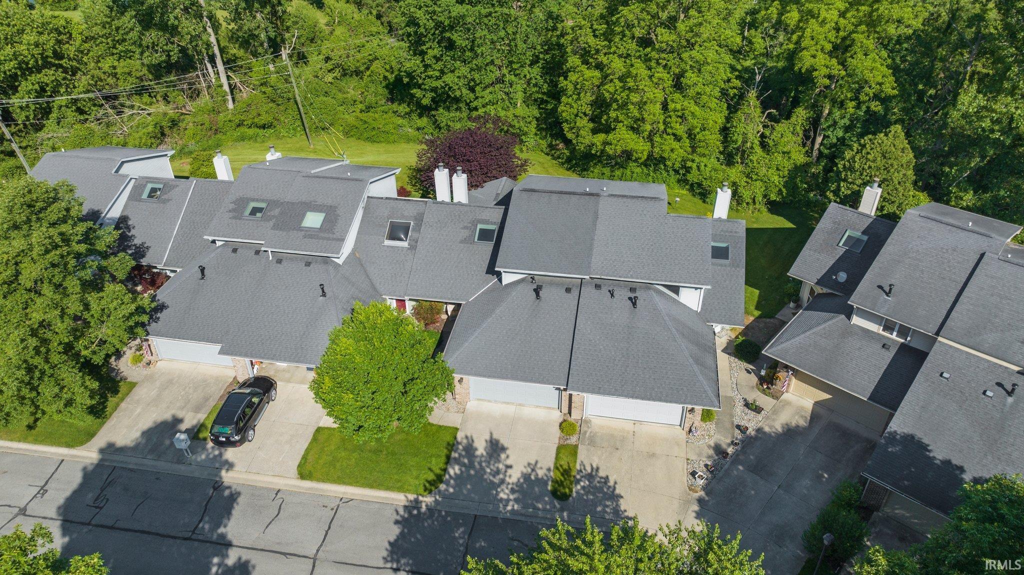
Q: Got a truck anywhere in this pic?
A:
No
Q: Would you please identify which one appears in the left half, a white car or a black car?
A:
black car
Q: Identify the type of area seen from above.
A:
residential area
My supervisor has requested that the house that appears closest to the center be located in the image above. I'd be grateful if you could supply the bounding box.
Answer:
[409,159,745,428]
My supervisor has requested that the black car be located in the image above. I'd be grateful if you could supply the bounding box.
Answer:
[208,379,275,448]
